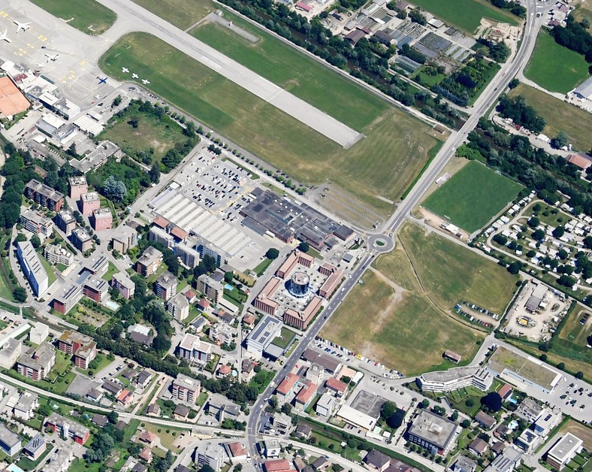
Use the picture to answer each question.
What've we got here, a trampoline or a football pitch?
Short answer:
football pitch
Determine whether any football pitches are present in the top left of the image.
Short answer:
No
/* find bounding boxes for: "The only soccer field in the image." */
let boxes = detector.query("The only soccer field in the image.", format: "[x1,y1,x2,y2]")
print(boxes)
[421,160,525,232]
